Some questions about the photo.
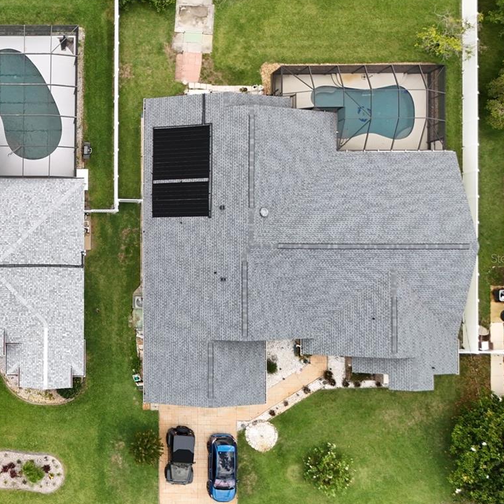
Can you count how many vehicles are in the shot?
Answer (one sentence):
Altogether the scene contains 2 vehicles.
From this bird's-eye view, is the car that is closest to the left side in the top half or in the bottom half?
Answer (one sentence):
It is in the bottom half that the car that is closest to the left side appears.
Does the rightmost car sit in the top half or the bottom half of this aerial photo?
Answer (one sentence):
The rightmost car sits in the bottom half of the picture.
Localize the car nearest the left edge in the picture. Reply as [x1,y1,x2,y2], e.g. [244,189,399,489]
[165,422,201,483]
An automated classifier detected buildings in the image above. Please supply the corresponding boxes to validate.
[141,90,480,410]
[0,177,87,390]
